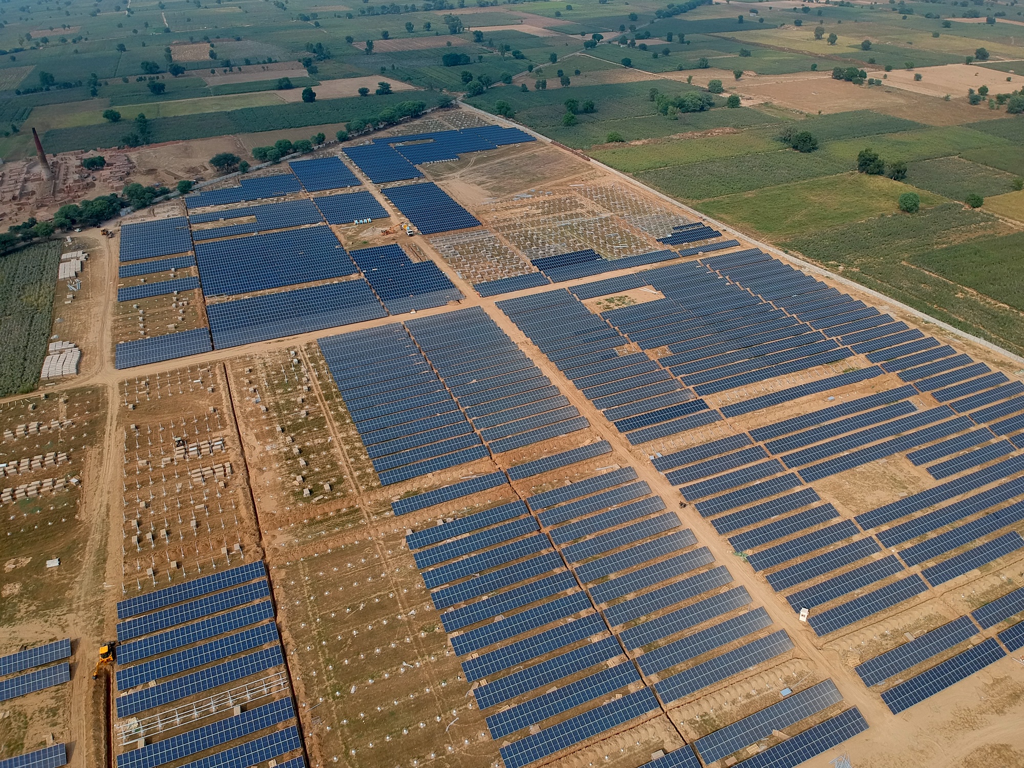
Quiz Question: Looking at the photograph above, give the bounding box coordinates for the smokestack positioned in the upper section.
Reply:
[31,127,58,182]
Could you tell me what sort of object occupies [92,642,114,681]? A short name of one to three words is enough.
work vehicle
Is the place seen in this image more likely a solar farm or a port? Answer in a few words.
solar farm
